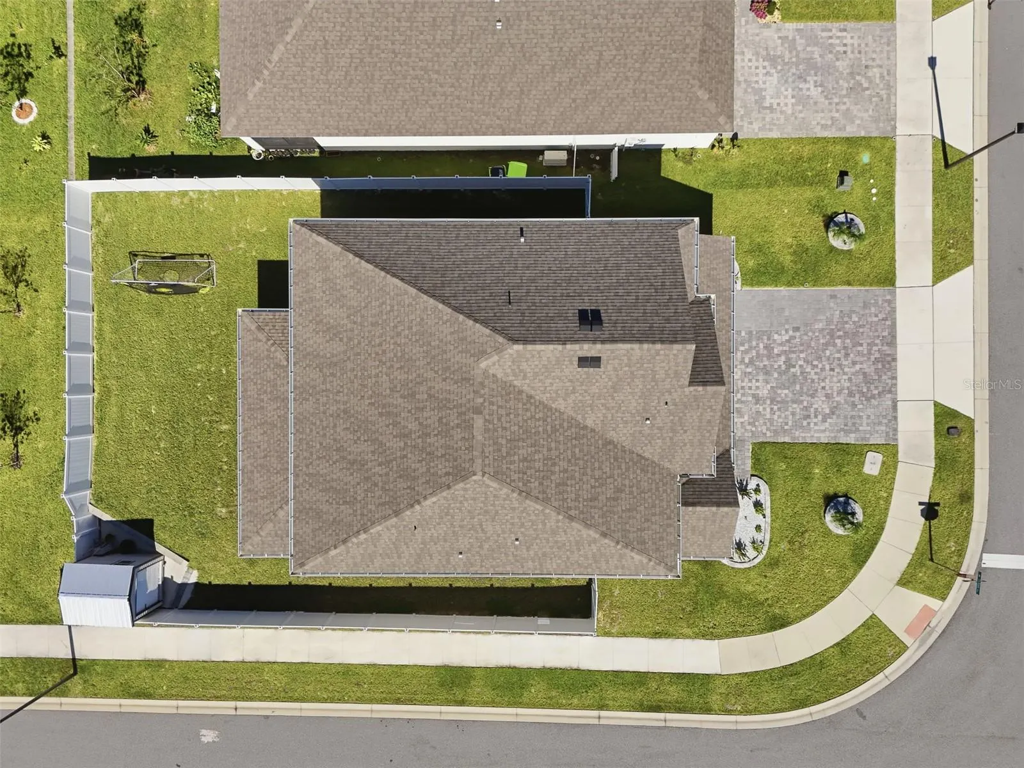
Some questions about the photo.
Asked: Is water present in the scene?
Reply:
No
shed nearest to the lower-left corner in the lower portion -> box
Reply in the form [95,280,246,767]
[56,553,162,627]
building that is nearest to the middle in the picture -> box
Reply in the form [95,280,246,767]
[238,217,742,579]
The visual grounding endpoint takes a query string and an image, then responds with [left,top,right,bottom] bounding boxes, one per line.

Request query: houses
[238,217,742,579]
[219,0,736,152]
